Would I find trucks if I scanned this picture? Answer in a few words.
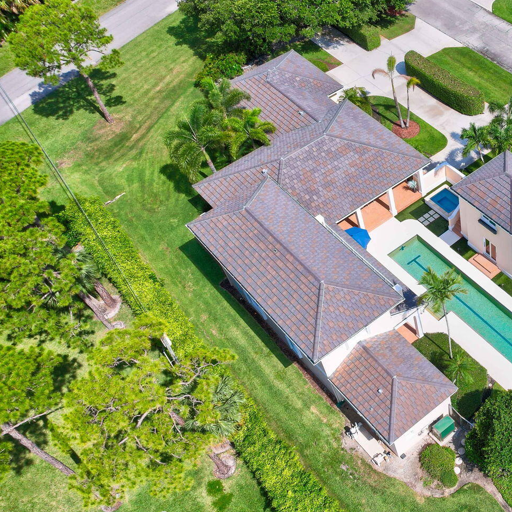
No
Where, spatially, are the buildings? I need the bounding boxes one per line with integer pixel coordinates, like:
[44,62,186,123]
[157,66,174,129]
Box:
[185,49,459,458]
[448,148,512,279]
